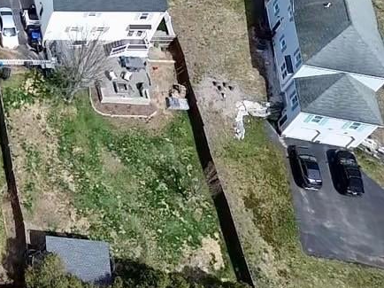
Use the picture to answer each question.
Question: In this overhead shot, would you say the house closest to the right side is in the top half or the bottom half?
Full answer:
It is in the top half that the house closest to the right side appears.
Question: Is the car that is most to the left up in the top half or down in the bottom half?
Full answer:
The car that is most to the left is in the top half of the image.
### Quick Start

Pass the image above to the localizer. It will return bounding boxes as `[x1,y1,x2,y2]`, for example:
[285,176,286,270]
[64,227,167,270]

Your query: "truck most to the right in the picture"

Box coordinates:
[326,143,369,203]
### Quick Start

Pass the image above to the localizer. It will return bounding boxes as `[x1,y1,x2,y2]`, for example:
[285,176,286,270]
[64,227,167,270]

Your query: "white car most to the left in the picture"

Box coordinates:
[0,8,21,50]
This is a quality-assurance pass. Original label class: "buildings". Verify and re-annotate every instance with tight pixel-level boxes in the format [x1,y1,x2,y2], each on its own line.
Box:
[35,0,175,42]
[262,0,384,140]
[46,238,120,288]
